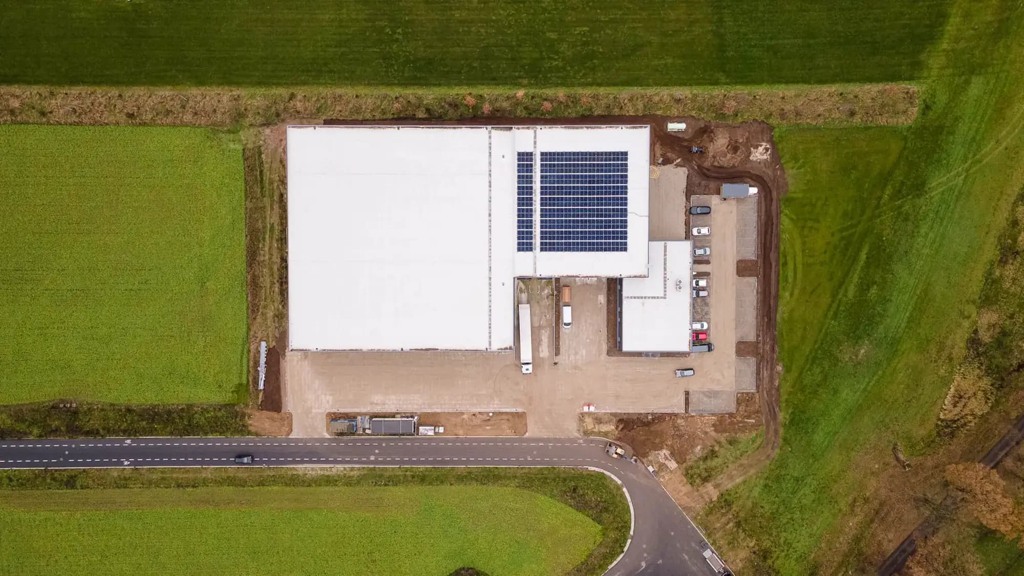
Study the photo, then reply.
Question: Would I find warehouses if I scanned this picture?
Yes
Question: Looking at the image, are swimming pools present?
No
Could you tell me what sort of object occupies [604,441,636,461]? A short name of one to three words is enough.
work vehicle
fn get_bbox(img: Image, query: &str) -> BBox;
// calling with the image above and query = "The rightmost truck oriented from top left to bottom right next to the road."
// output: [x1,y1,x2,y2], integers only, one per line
[704,549,731,576]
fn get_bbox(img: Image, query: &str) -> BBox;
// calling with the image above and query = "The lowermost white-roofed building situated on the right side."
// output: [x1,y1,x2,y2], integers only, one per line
[616,241,693,355]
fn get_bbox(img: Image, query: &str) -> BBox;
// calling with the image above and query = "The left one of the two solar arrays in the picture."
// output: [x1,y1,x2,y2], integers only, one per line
[517,151,533,252]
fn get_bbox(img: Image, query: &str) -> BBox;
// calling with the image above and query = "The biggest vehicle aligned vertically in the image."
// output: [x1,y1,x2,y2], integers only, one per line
[519,304,533,373]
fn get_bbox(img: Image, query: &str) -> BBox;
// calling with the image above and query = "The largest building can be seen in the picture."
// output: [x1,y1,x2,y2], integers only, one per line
[287,126,514,351]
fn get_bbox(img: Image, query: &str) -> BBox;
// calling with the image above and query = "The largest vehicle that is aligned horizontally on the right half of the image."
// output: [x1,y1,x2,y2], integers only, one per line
[717,184,756,197]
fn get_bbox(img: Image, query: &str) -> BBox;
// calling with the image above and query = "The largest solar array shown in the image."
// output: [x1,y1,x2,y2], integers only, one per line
[540,150,628,253]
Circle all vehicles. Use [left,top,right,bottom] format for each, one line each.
[692,279,708,286]
[717,184,756,197]
[235,456,253,464]
[675,369,694,377]
[690,206,711,214]
[692,333,707,340]
[691,343,713,353]
[690,145,705,153]
[704,549,731,576]
[562,306,572,327]
[692,290,708,297]
[692,247,710,255]
[604,441,636,461]
[692,227,710,235]
[692,321,707,330]
[519,304,533,373]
